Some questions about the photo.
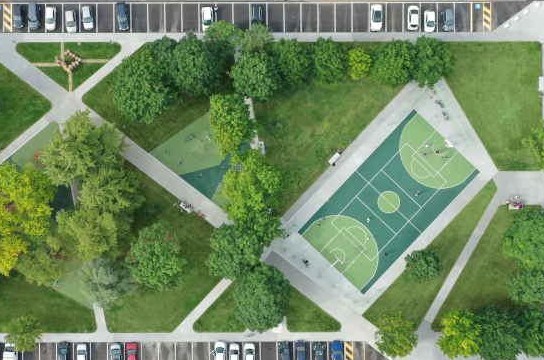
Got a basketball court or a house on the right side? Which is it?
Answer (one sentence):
The one visible on the right side is a basketball court.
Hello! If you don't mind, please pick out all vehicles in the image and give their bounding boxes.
[209,340,226,360]
[251,4,263,23]
[64,10,77,35]
[369,4,384,33]
[228,342,240,360]
[12,5,25,30]
[27,2,41,31]
[44,6,58,32]
[295,340,306,360]
[423,9,436,34]
[81,5,95,32]
[201,5,213,32]
[76,343,88,360]
[277,340,291,360]
[109,341,122,360]
[312,341,324,360]
[116,2,129,32]
[243,342,256,360]
[406,5,421,32]
[125,342,137,360]
[56,341,70,360]
[330,340,344,360]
